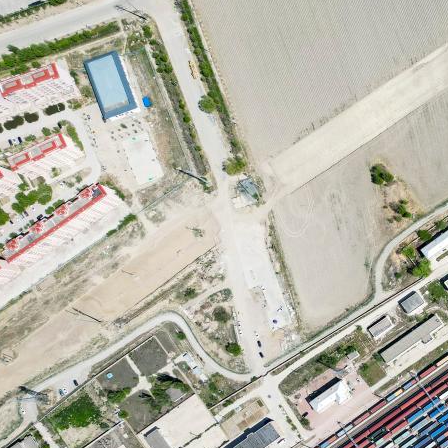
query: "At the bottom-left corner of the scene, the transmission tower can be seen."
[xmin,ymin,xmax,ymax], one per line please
[18,393,47,408]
